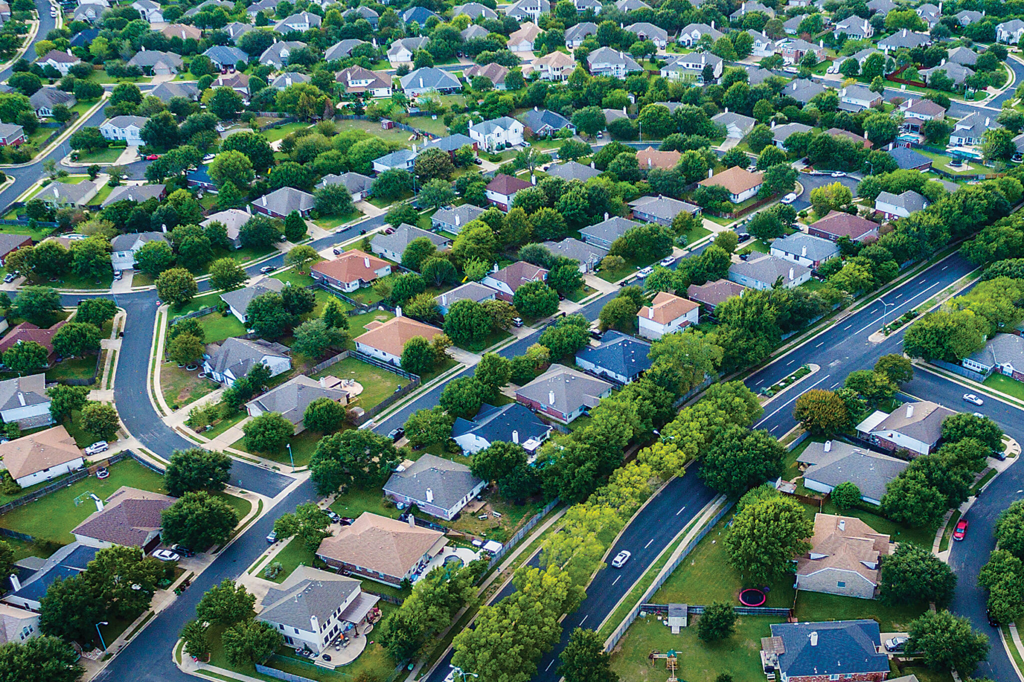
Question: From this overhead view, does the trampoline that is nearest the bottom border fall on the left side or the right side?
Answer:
right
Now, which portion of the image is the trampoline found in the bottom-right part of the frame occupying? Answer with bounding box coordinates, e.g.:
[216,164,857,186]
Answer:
[738,586,767,606]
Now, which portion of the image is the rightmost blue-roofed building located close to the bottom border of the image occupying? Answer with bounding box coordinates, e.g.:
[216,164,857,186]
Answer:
[760,614,894,682]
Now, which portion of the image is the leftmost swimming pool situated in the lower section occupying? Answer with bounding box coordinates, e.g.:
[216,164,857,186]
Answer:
[413,537,493,579]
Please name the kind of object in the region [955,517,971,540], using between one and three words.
vehicle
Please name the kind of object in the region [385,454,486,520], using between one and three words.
house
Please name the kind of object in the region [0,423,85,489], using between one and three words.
house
